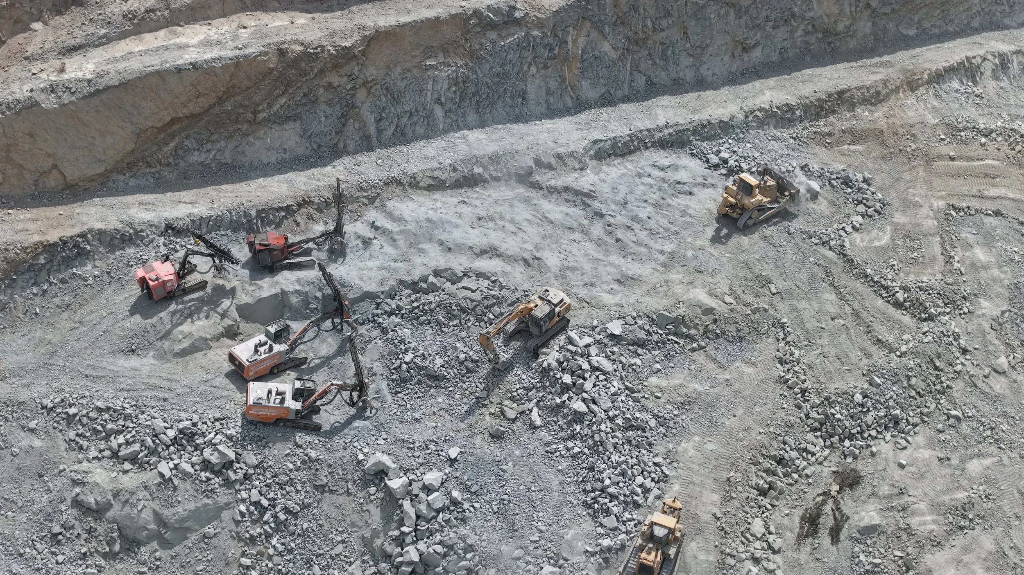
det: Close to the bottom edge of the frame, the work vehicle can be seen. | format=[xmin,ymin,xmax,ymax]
[626,499,687,575]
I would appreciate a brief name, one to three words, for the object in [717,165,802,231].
work vehicle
